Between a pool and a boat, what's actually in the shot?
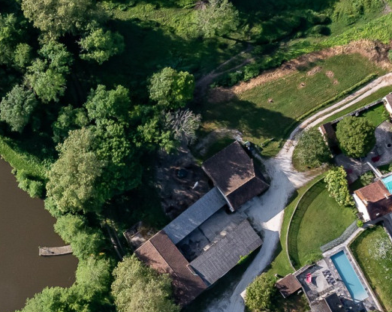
pool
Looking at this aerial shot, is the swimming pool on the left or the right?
right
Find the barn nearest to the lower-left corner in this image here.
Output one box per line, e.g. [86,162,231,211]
[134,230,208,306]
